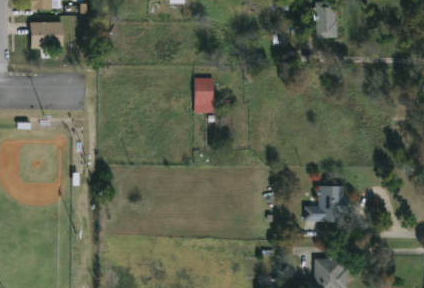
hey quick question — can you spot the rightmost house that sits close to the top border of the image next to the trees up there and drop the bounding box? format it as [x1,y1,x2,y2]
[316,2,337,38]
